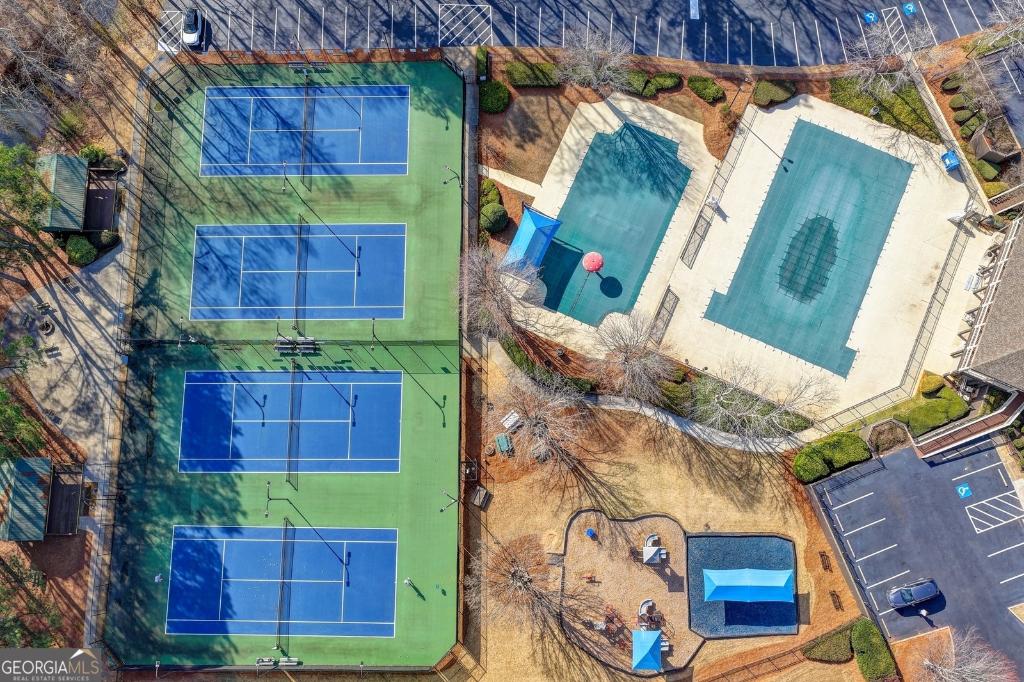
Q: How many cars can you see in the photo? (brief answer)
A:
2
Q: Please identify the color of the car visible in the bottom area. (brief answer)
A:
blue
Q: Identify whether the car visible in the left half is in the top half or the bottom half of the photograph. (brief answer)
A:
top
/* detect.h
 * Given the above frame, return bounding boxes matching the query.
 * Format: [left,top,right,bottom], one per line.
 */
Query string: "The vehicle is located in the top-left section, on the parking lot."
[181,12,203,49]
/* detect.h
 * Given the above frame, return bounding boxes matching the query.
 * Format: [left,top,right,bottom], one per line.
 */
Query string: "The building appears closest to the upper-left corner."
[35,153,118,237]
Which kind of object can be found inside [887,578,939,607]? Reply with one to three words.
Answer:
car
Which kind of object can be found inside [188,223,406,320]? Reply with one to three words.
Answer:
tennis court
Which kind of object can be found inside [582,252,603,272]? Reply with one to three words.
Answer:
fountain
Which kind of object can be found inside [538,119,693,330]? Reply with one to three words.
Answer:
swimming pool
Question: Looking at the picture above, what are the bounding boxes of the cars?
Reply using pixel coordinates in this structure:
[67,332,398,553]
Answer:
[887,578,939,607]
[181,12,203,49]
